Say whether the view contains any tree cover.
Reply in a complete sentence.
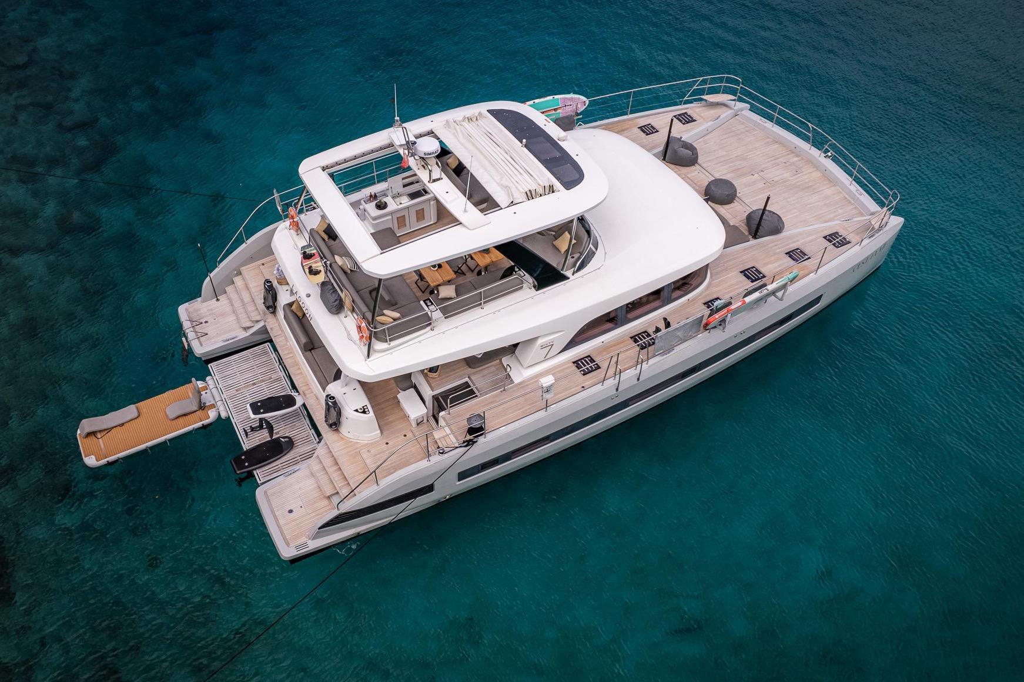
No, no tree cover is visible.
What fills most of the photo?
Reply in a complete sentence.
Most of the picture is covered by water.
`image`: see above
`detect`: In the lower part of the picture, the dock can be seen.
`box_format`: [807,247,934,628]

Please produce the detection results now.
[78,383,219,471]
